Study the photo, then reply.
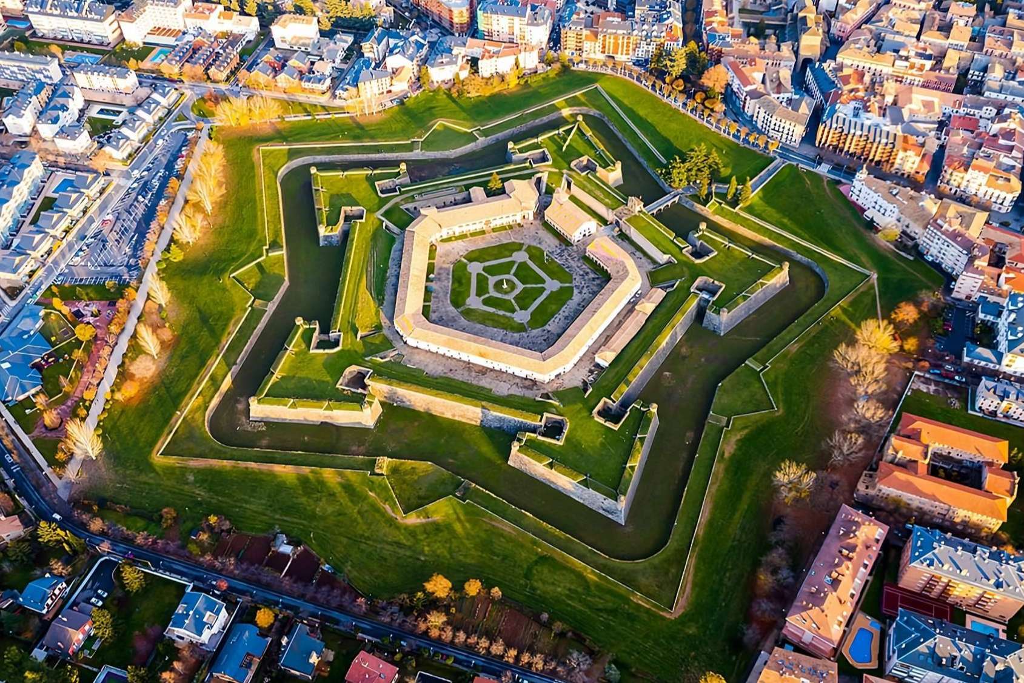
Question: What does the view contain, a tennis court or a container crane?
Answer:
tennis court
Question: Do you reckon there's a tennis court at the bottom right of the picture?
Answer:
Yes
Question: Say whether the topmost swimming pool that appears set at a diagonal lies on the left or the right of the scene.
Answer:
left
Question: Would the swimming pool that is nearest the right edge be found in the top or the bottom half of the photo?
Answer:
bottom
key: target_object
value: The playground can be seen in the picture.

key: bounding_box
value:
[31,298,117,439]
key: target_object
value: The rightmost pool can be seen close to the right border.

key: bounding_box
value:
[966,614,1007,635]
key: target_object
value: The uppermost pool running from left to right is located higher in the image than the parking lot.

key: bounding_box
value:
[62,52,104,64]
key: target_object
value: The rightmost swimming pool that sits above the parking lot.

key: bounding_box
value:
[142,46,170,68]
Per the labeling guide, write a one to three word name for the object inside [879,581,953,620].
tennis court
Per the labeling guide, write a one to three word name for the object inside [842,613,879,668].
swimming pool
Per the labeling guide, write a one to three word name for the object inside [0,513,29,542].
house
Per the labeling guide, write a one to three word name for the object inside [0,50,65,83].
building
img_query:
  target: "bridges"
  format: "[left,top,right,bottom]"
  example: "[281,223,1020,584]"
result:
[644,191,681,219]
